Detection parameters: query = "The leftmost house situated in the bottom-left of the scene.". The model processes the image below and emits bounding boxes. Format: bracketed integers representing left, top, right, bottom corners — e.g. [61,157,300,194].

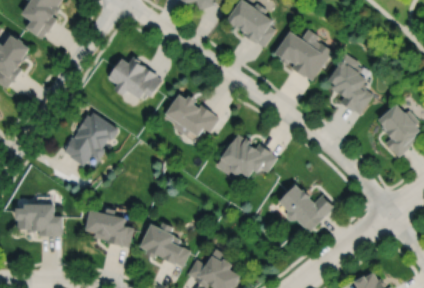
[16,204,64,237]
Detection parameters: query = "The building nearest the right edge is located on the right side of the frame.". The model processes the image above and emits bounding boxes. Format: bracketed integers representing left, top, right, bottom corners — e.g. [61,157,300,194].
[378,106,420,157]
